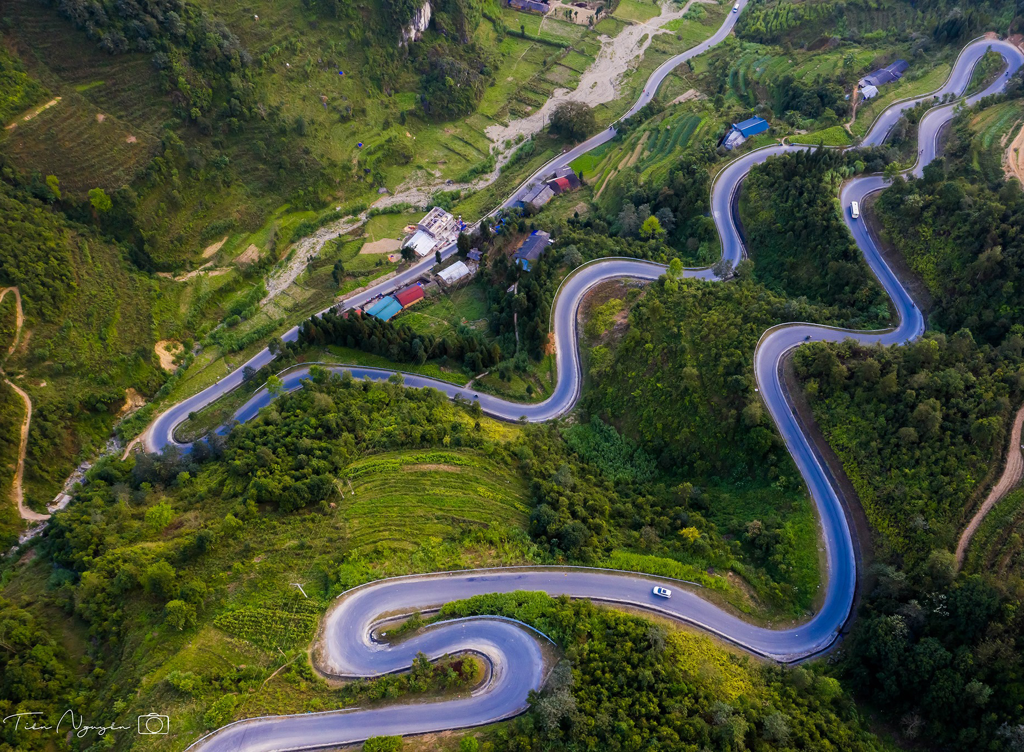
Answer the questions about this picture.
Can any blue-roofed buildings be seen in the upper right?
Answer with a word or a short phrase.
Yes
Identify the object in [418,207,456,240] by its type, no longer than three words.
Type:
building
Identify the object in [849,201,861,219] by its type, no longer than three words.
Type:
vehicle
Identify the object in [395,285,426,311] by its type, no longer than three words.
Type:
house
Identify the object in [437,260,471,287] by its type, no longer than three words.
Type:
barn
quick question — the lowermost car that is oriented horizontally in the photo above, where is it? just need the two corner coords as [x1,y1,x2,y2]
[652,587,673,599]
